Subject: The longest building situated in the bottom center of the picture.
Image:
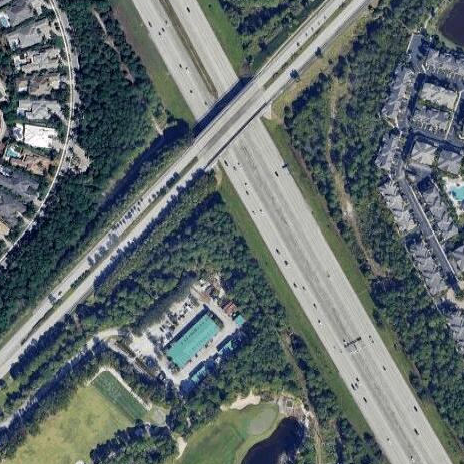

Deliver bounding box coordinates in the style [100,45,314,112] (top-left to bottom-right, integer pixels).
[164,315,220,367]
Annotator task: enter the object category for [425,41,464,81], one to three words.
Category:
house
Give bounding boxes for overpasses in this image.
[190,75,273,160]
